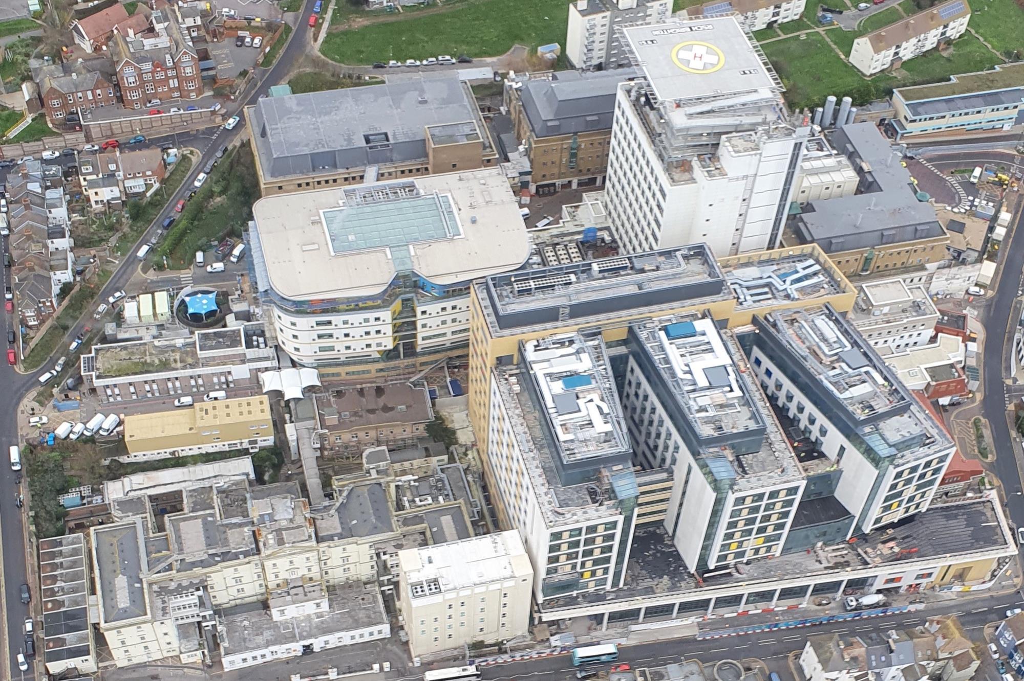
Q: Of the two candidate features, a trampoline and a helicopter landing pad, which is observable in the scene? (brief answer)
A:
helicopter landing pad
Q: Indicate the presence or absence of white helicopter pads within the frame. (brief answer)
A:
Yes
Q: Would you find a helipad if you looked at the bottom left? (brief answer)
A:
No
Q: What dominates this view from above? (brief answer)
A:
buildings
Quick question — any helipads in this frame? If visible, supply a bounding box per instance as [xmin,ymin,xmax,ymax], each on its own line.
[614,12,786,132]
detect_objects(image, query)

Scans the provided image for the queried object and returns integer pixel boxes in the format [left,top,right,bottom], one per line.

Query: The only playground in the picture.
[169,282,228,330]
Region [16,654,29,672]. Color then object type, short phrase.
white vehicle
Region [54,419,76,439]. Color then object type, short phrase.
white vehicle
